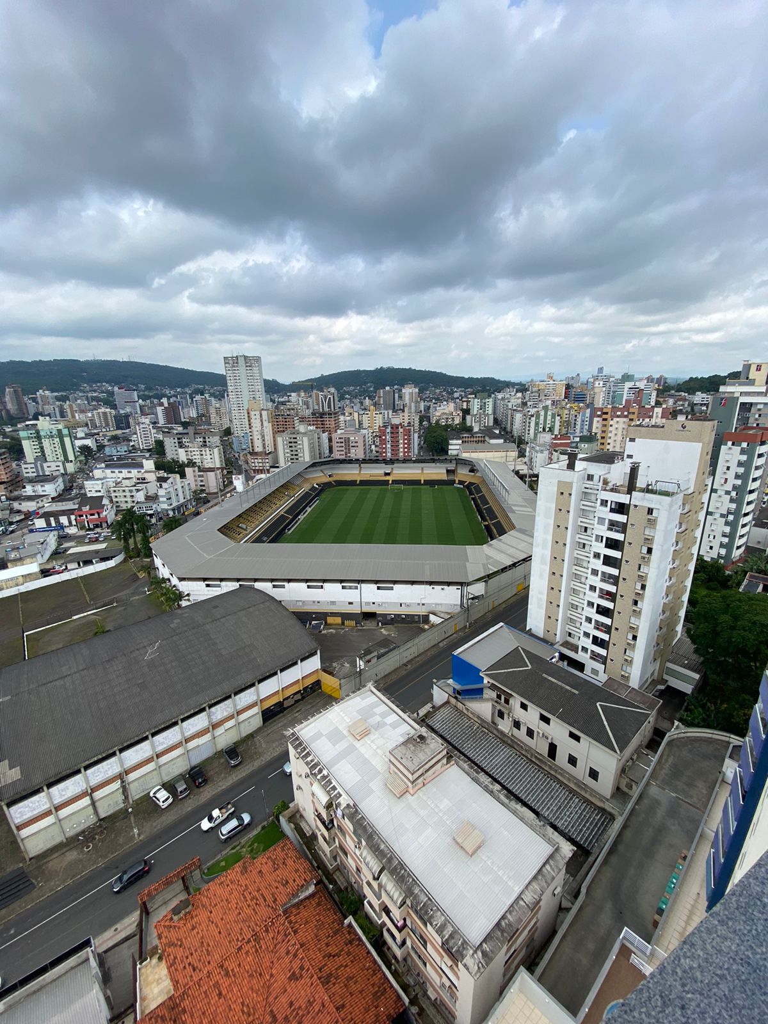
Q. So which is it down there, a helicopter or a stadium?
stadium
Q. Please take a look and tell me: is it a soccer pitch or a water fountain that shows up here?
soccer pitch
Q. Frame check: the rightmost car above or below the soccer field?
below it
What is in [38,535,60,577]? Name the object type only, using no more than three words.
shed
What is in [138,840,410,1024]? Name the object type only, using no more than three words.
house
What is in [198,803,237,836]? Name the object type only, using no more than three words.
truck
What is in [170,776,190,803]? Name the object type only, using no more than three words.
car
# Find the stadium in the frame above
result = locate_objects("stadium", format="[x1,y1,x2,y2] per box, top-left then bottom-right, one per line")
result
[149,458,538,584]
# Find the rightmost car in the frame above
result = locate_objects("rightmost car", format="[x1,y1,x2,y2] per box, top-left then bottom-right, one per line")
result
[273,760,293,783]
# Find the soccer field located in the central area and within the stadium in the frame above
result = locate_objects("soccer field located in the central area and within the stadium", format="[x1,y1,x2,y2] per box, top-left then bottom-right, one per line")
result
[275,486,488,554]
